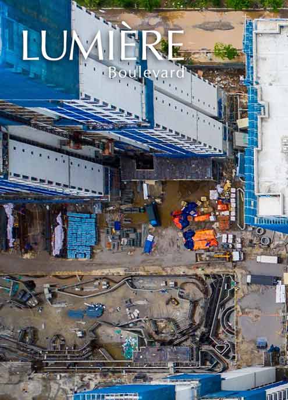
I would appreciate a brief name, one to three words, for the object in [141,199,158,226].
vehicle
